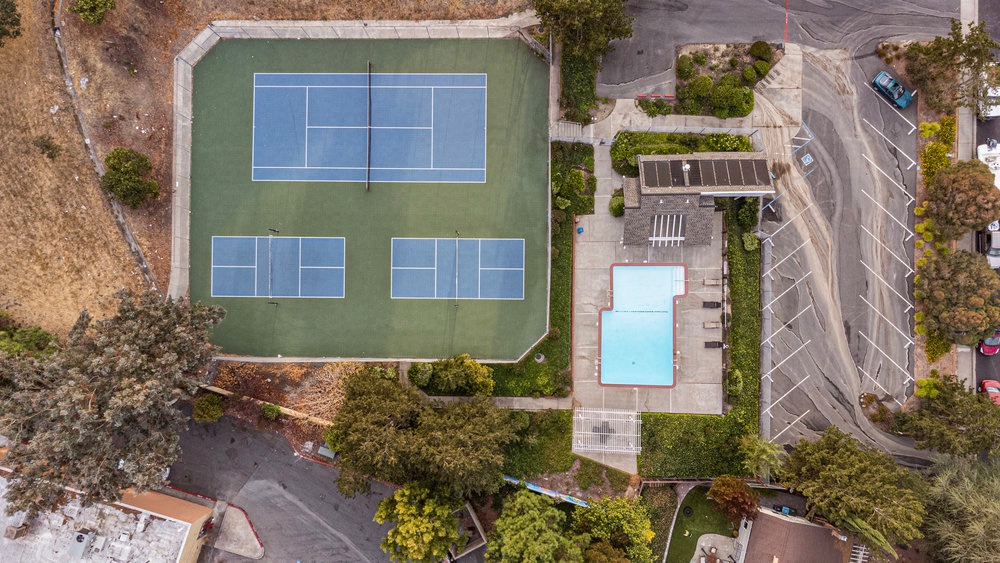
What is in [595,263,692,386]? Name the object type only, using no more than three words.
swimming pool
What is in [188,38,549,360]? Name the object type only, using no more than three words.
sports court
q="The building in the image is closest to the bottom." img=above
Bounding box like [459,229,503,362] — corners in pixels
[736,508,852,563]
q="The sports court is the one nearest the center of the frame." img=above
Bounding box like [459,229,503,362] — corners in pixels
[391,238,524,300]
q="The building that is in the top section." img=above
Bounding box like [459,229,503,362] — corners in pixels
[620,151,775,247]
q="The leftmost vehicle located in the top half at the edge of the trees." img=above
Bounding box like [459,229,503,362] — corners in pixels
[871,69,915,109]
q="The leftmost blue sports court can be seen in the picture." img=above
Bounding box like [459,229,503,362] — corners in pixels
[211,236,345,299]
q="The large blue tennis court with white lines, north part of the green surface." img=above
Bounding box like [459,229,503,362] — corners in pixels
[252,72,487,183]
